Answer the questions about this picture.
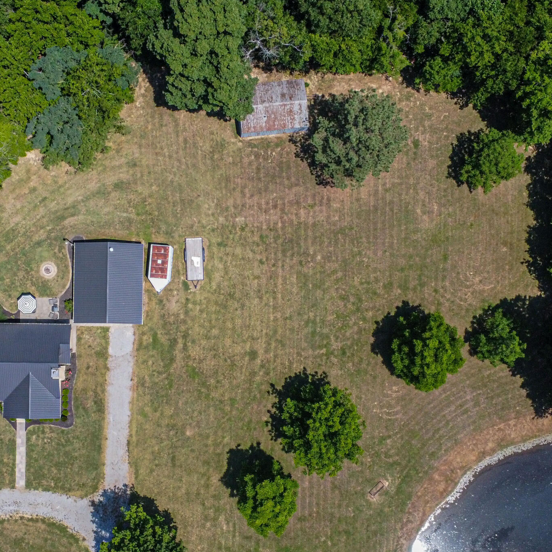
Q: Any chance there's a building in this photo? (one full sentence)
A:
Yes, the picture does show a building.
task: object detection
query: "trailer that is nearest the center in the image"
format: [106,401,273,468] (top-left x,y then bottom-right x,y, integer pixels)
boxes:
[184,236,205,290]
